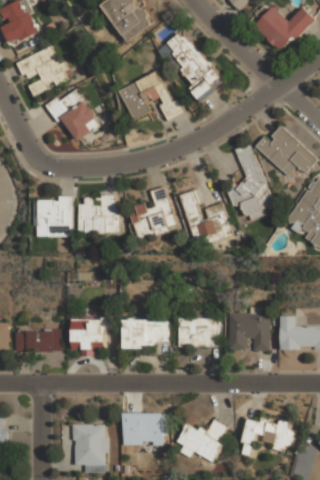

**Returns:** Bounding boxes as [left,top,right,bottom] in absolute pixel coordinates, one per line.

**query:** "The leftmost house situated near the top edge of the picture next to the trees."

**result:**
[1,1,38,42]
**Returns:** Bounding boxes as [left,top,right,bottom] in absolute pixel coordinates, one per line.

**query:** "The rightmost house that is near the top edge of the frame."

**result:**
[258,8,314,50]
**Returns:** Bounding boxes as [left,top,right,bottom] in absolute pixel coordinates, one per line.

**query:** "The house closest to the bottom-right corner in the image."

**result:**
[241,418,294,456]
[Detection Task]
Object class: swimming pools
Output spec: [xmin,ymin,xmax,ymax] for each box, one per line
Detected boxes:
[270,232,288,252]
[290,0,302,9]
[156,26,178,42]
